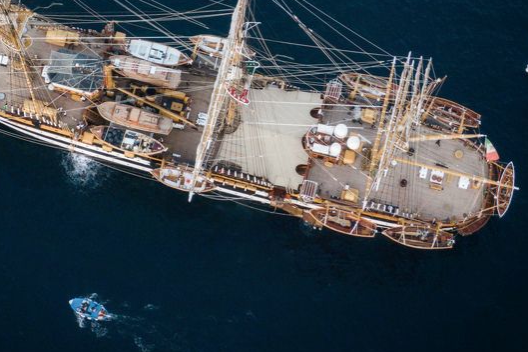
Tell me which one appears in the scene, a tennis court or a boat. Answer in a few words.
boat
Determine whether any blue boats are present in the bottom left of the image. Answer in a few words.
Yes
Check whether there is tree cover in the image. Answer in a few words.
No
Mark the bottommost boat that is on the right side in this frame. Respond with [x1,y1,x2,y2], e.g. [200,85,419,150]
[384,226,456,251]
